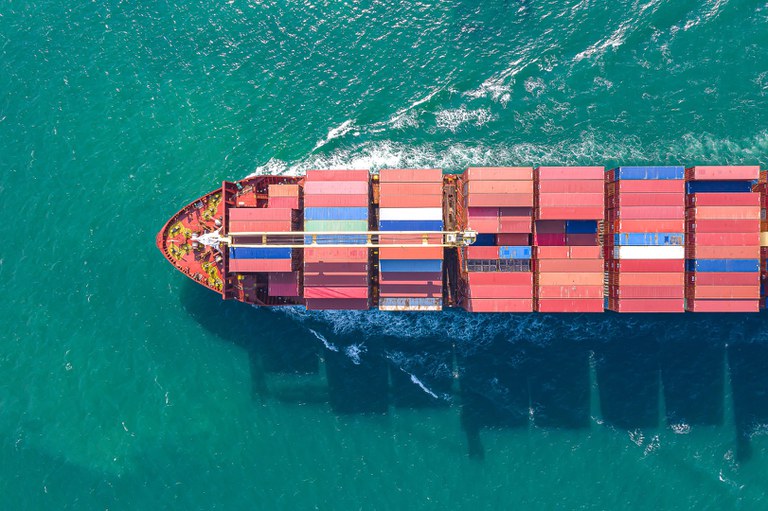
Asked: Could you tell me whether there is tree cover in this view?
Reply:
No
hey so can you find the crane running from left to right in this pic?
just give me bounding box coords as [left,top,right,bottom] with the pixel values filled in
[226,224,480,249]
